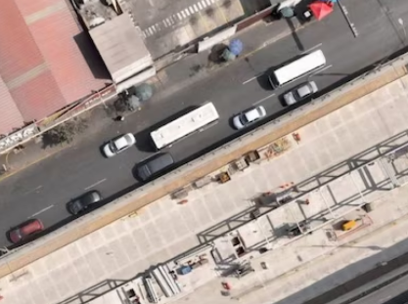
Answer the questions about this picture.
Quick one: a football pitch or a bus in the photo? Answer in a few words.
bus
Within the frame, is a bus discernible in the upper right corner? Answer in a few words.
Yes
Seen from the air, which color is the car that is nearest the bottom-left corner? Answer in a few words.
red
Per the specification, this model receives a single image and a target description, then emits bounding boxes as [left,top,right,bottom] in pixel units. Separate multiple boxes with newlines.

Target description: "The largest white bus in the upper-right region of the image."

[266,47,327,93]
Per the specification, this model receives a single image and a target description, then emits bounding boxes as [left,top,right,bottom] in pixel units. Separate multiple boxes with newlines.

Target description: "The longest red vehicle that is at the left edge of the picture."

[6,216,45,244]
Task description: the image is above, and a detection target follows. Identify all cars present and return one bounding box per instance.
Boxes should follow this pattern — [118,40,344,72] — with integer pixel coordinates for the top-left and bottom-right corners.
[230,104,267,131]
[280,81,318,107]
[64,188,102,214]
[6,216,45,244]
[101,132,137,158]
[134,152,174,181]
